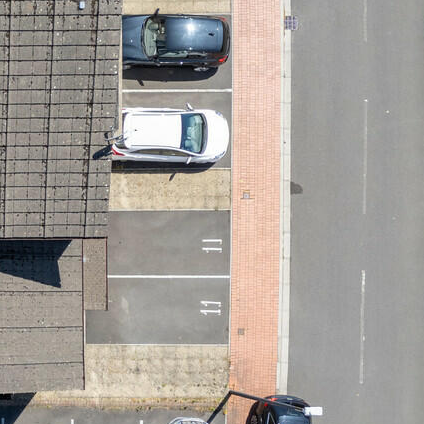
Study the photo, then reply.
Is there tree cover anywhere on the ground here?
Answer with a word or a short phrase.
No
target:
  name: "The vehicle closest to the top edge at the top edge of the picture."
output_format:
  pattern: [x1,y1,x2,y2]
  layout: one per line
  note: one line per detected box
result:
[121,5,231,69]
